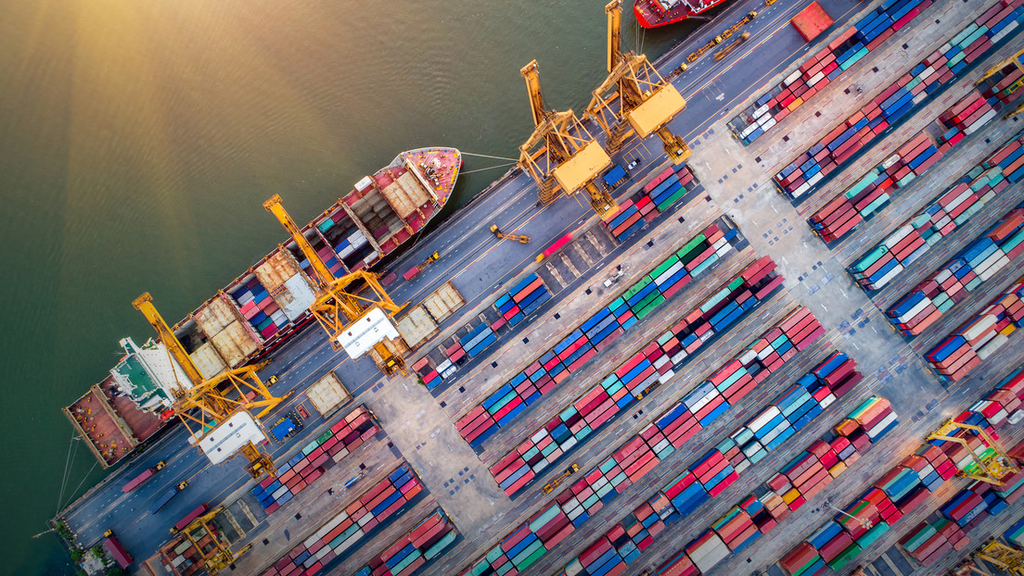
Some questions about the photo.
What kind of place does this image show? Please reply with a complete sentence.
This looks like a port.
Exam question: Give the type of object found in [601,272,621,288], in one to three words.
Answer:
vehicle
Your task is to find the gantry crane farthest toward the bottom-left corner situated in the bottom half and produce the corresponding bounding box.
[144,525,203,576]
